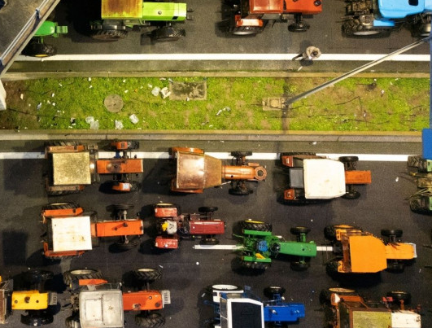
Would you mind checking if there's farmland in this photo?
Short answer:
No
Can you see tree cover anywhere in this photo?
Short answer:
No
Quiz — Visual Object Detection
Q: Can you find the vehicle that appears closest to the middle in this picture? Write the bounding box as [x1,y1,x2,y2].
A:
[156,145,270,200]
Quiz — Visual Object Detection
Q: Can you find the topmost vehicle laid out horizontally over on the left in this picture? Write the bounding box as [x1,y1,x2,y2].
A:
[80,0,192,45]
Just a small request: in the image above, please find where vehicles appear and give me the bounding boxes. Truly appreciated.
[304,279,422,328]
[265,148,371,207]
[225,219,317,278]
[48,263,169,328]
[213,0,323,37]
[30,199,147,264]
[156,145,270,200]
[0,265,58,328]
[80,0,192,45]
[146,201,228,255]
[309,220,415,282]
[13,8,67,61]
[391,150,432,218]
[34,136,147,197]
[190,274,305,328]
[329,0,432,42]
